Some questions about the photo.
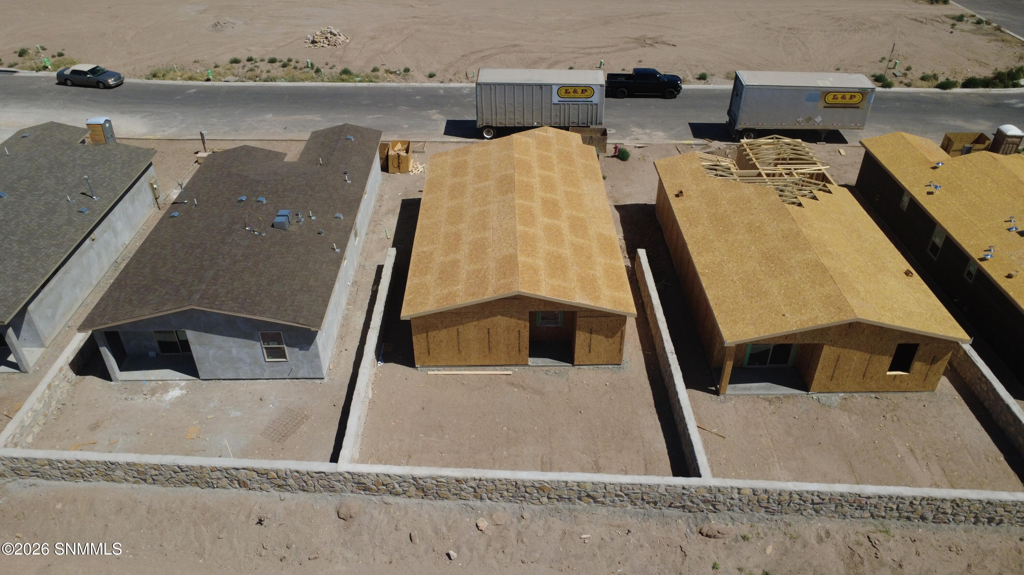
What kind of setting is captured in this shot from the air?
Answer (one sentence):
What you see here is a residential area.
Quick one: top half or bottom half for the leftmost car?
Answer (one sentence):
The top half of the photo is where the leftmost car is.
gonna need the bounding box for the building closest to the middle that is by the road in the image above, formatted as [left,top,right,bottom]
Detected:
[400,126,637,370]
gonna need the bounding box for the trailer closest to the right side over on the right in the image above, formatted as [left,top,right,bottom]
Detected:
[728,72,878,140]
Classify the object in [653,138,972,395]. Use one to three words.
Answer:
house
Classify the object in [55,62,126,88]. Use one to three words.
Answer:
car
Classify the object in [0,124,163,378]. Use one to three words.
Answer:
house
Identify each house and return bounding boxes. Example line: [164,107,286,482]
[0,124,163,378]
[400,126,637,370]
[853,132,1024,393]
[77,124,383,386]
[653,138,972,395]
